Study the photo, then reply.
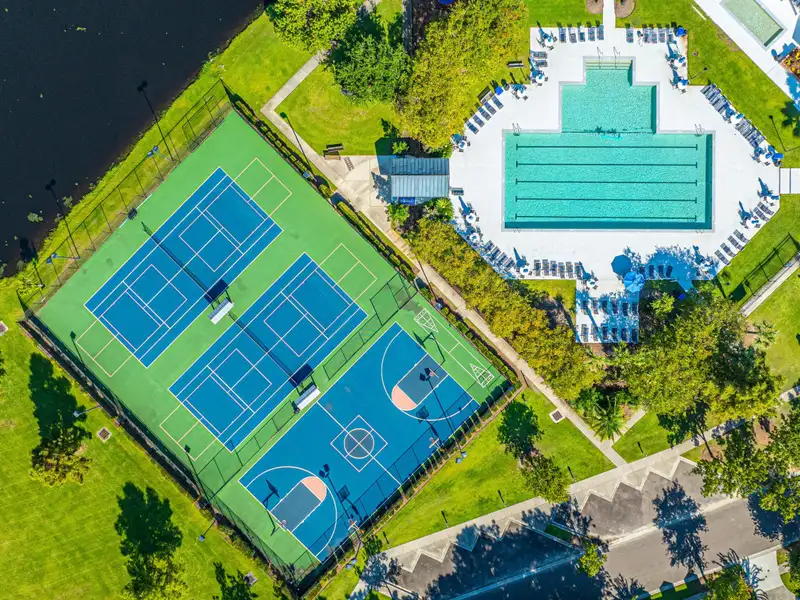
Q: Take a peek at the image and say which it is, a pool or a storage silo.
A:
pool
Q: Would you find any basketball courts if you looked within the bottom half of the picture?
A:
Yes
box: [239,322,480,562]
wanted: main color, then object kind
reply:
blue basketball court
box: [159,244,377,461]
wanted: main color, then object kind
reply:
blue tennis court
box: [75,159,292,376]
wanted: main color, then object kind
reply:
blue tennis court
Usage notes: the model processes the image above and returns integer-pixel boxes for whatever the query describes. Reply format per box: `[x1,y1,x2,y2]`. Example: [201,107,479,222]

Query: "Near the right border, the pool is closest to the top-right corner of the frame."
[714,0,790,52]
